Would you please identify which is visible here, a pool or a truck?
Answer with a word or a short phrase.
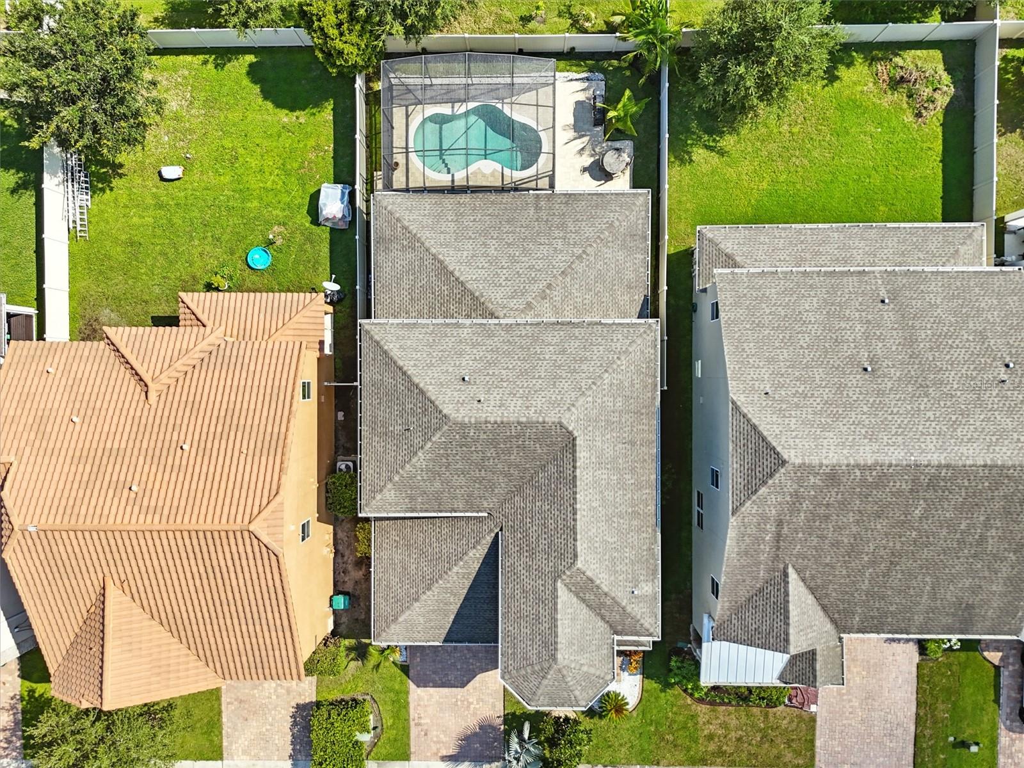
pool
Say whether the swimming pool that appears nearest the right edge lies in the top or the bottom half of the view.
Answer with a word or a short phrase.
top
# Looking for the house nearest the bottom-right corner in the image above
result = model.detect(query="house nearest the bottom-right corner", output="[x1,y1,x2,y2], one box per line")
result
[691,224,1024,690]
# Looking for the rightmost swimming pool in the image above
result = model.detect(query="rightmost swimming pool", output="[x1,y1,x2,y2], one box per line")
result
[407,98,548,180]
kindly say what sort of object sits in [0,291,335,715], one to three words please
house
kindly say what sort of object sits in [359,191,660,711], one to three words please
house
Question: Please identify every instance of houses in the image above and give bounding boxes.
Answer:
[0,291,335,715]
[359,191,660,711]
[691,224,1024,690]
